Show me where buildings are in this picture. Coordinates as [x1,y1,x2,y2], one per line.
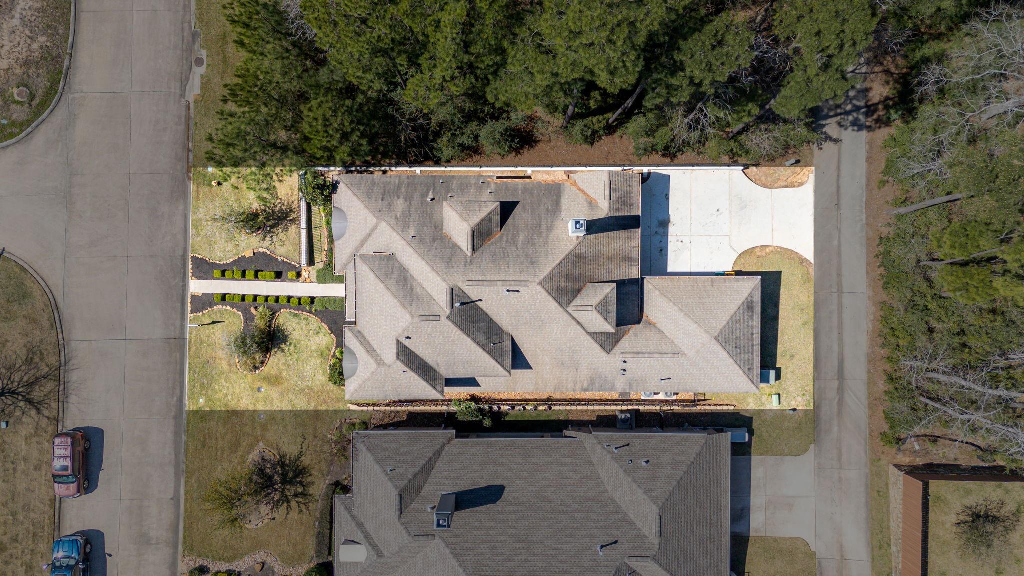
[328,170,763,403]
[331,426,733,576]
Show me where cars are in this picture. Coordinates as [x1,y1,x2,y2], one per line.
[51,427,93,498]
[53,533,95,576]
